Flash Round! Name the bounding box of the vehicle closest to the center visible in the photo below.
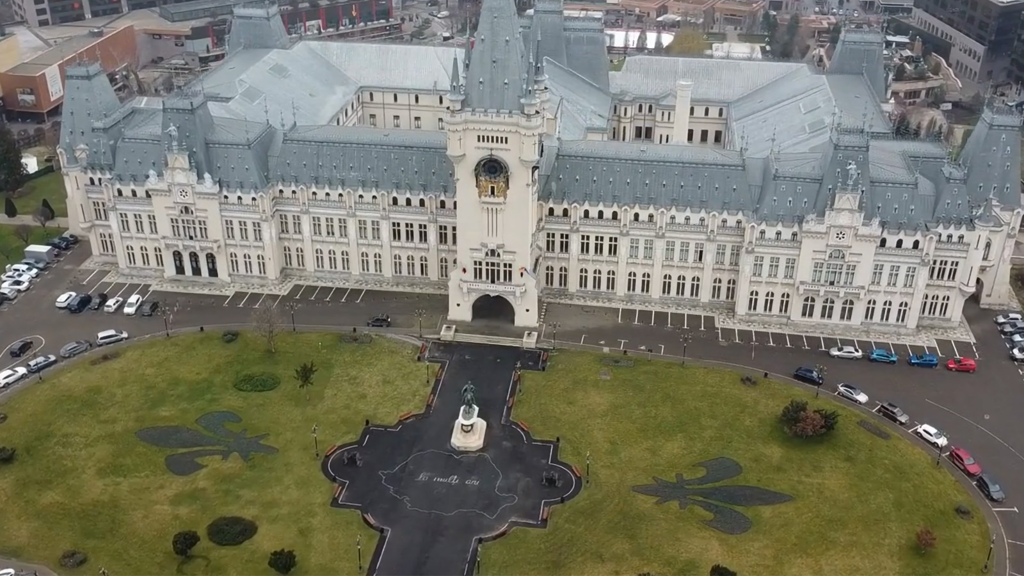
[364,314,394,328]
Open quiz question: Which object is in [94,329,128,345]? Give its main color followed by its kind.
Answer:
gray car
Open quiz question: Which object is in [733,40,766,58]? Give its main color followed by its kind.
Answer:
white tent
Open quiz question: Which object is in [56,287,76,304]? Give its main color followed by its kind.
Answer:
white car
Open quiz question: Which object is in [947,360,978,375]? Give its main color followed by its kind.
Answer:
red car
